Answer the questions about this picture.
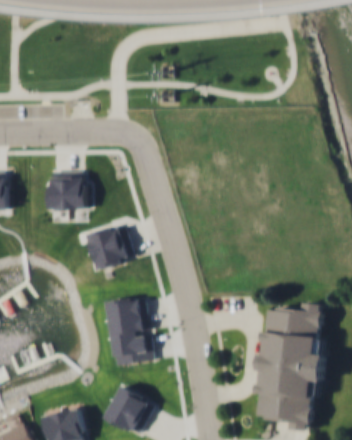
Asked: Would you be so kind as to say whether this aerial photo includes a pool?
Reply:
No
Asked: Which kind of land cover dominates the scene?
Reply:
grass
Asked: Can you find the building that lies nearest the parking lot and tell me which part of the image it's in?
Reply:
bottom right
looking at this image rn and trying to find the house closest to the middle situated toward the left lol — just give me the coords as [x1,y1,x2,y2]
[86,227,136,270]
